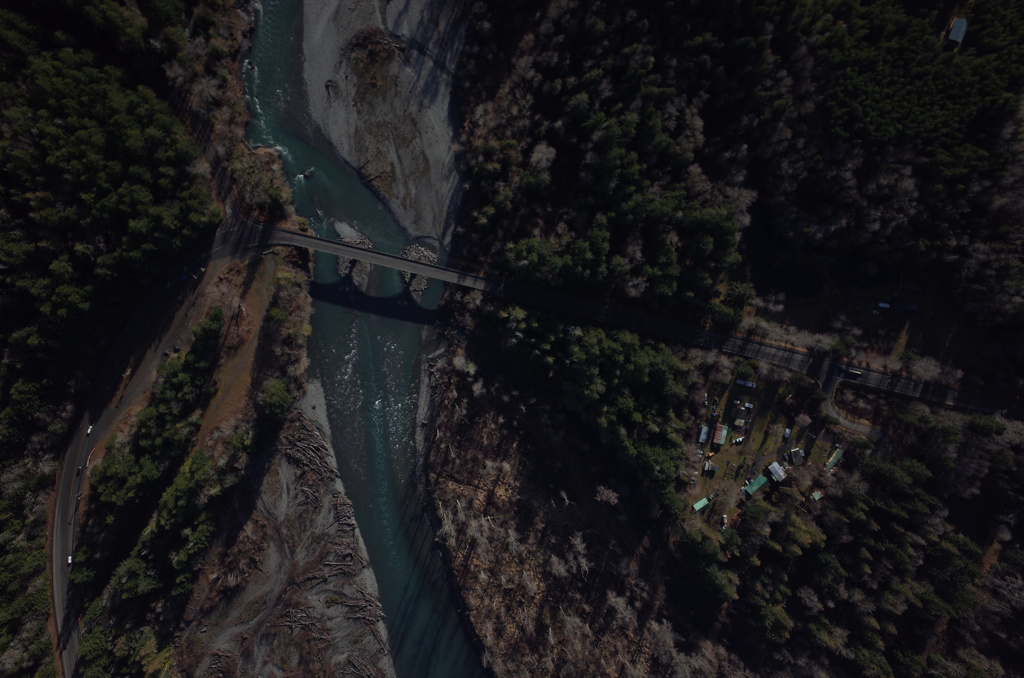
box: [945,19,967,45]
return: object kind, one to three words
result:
house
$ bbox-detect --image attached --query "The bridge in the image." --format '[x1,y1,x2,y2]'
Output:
[288,231,488,290]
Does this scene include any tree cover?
Yes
